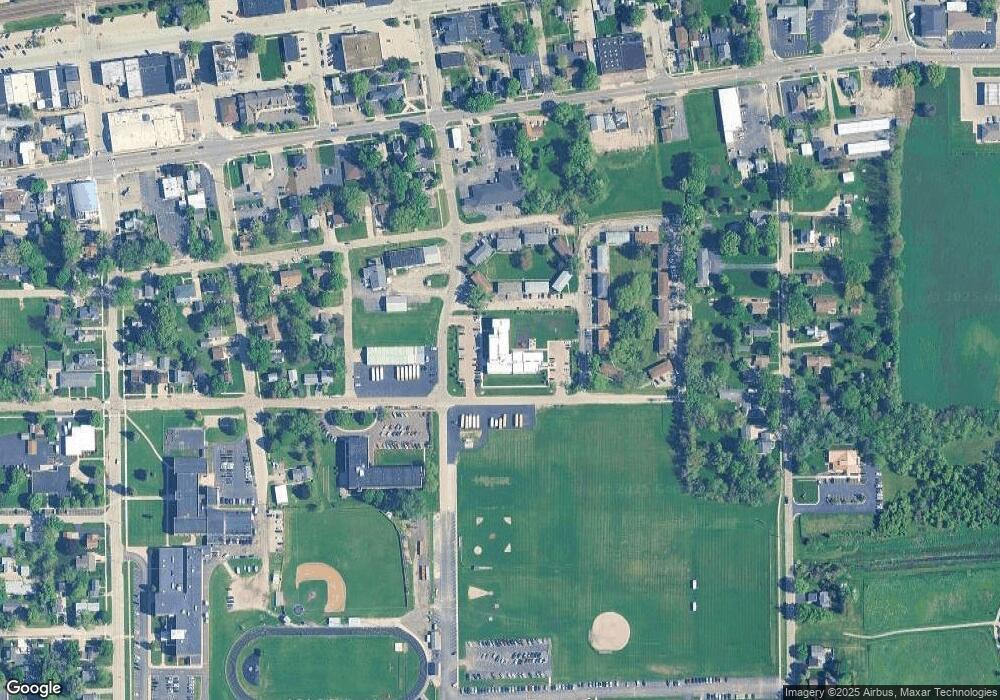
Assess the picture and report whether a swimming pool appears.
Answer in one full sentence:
No, there isn't any swimming pool down there.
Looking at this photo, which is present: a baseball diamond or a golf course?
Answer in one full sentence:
I can see a baseball diamond in this picture.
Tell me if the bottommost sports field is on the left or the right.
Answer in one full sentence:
The bottommost sports field is on the left side of the image.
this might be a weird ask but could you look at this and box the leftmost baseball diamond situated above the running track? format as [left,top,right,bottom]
[283,503,405,622]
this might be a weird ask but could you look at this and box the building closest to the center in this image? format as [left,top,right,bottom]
[487,318,543,374]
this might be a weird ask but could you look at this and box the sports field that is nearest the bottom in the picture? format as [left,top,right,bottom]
[258,638,394,700]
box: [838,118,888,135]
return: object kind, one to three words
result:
building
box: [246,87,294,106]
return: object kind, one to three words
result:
house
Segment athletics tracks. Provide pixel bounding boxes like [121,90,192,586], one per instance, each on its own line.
[225,627,428,700]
